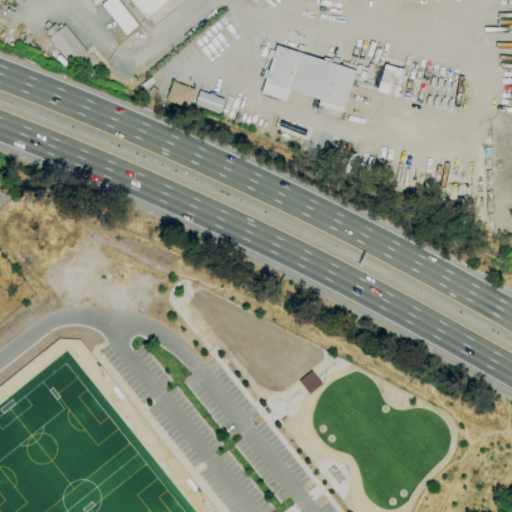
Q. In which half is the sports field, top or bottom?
bottom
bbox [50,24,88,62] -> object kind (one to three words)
shed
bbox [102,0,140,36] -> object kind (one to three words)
building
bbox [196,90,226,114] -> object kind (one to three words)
building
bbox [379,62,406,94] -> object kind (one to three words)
shed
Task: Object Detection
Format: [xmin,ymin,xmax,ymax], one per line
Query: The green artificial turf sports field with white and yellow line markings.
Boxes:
[0,352,196,512]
